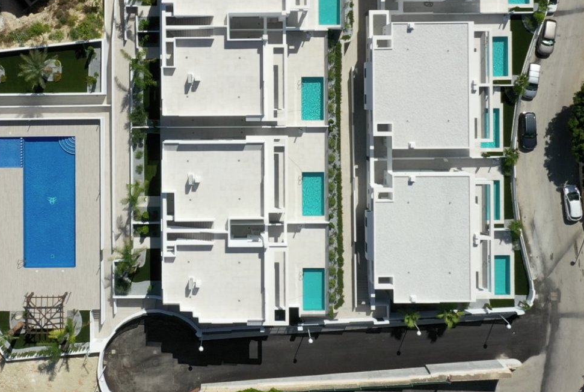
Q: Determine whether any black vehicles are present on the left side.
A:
No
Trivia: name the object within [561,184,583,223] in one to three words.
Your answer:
car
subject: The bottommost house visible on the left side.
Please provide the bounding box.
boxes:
[163,231,291,333]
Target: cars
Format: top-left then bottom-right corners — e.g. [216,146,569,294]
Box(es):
[545,0,561,15]
[521,63,541,100]
[534,19,557,59]
[561,184,583,223]
[517,113,537,151]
